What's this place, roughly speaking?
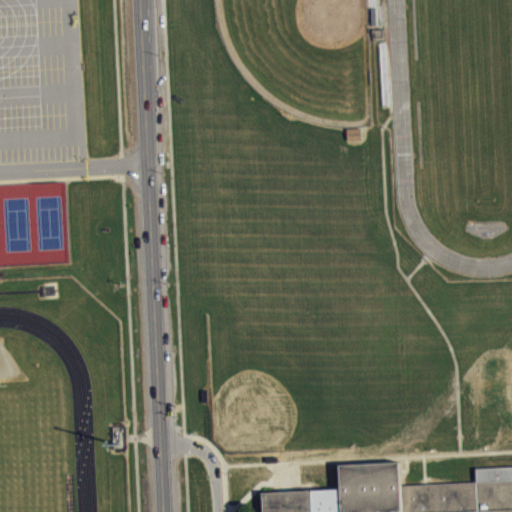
sports ground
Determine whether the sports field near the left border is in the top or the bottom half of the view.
bottom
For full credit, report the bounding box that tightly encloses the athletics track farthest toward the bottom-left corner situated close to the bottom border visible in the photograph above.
[0,308,97,512]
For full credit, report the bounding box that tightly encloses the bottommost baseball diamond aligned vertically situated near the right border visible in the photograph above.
[462,348,512,460]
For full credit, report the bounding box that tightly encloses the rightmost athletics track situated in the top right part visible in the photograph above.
[388,0,512,278]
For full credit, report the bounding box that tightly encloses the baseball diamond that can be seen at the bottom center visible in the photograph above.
[212,368,298,454]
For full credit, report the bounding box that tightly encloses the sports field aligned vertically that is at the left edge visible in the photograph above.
[0,330,78,512]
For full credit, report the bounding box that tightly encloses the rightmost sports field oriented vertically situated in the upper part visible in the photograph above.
[405,0,512,258]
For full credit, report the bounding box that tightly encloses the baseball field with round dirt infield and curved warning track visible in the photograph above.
[214,0,369,128]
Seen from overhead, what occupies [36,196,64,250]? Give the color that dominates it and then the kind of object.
blue tennis court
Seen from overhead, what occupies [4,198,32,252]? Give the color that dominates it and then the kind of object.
blue tennis court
